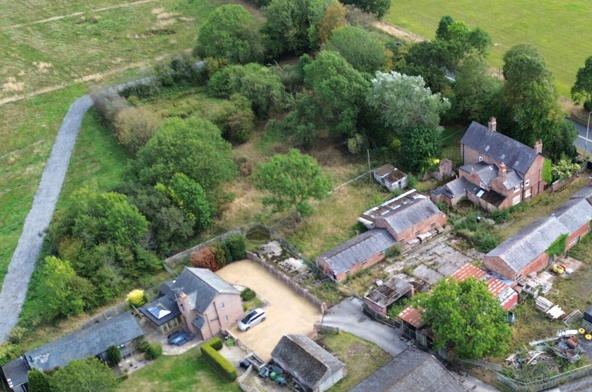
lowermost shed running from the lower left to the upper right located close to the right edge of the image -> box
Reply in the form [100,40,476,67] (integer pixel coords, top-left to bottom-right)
[486,185,592,285]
